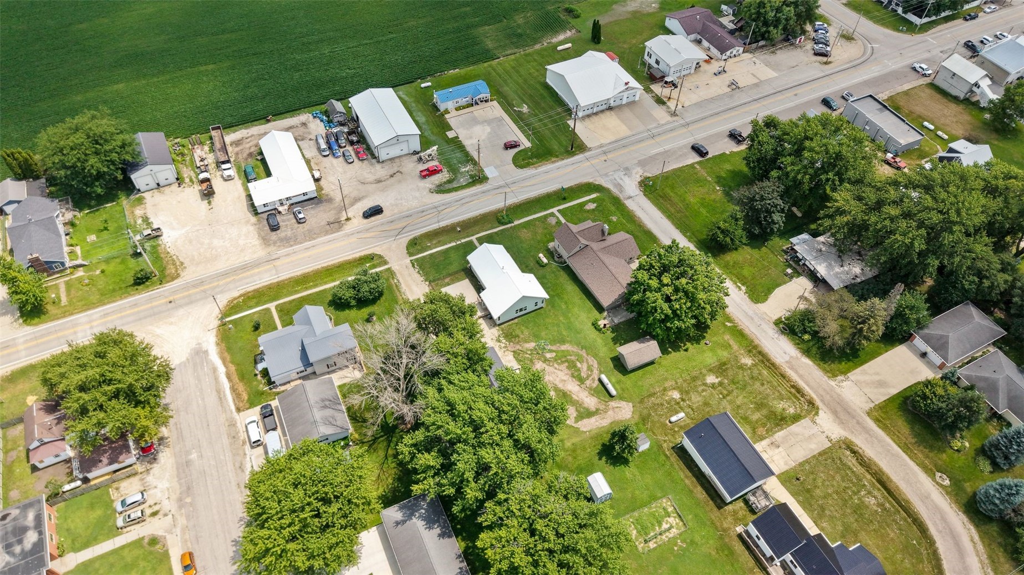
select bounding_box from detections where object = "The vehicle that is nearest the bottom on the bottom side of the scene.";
[179,547,199,575]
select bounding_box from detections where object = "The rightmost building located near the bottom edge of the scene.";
[749,502,898,575]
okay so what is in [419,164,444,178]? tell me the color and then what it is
red vehicle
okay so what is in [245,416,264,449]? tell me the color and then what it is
white car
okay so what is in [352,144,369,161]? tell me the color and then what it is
red vehicle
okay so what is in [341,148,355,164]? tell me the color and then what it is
gray car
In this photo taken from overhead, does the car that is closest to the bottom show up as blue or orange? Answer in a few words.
orange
